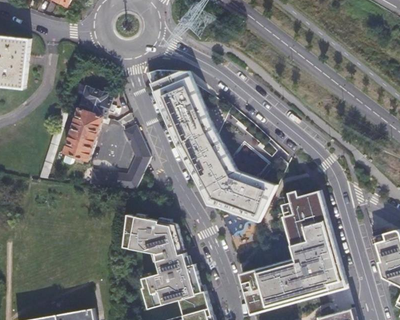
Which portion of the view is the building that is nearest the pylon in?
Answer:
center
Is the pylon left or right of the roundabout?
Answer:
on the right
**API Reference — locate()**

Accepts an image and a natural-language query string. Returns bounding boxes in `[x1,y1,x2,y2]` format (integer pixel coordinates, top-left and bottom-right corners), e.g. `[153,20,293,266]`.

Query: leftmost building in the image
[0,36,38,90]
